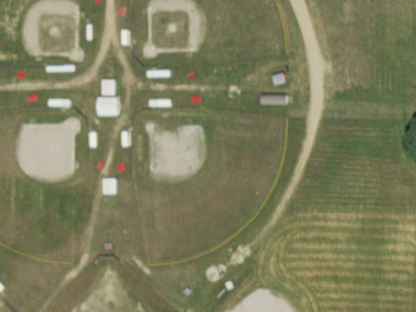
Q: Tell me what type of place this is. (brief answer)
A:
sports ground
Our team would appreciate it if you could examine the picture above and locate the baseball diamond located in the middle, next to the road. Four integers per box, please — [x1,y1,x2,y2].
[133,110,288,264]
